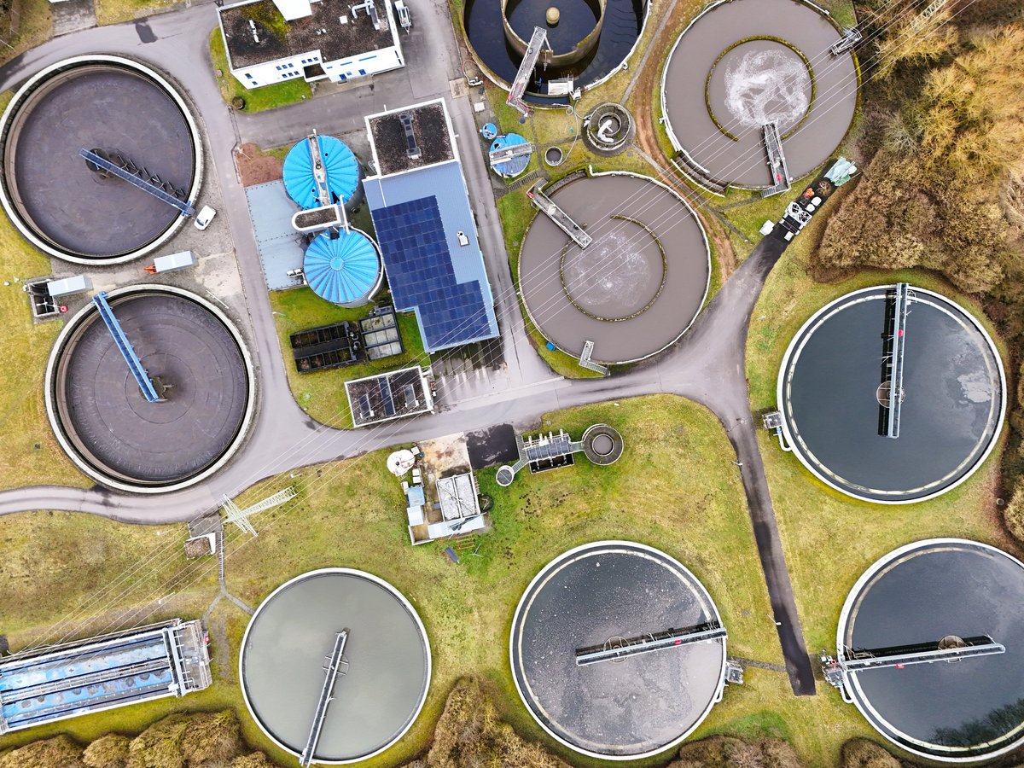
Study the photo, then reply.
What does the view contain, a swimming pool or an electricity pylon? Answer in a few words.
electricity pylon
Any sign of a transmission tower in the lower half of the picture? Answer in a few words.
Yes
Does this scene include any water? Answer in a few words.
Yes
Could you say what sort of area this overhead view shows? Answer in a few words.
industrial area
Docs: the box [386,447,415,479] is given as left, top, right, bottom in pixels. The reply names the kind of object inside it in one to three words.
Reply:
storage tank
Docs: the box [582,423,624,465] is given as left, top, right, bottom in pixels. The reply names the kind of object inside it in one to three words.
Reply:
storage tank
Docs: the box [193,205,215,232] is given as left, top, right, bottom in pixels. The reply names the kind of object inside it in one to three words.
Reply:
vehicle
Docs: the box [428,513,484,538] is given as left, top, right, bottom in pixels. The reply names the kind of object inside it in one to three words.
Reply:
shed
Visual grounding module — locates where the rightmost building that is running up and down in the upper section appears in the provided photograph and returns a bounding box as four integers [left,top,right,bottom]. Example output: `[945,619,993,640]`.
[362,98,500,354]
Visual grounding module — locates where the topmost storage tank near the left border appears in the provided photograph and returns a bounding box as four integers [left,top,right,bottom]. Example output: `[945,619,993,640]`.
[0,56,205,264]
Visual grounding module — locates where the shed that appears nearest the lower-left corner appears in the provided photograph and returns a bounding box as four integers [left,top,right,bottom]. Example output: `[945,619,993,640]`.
[185,530,220,559]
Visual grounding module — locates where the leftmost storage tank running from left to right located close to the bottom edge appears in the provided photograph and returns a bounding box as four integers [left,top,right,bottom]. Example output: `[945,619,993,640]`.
[0,618,221,738]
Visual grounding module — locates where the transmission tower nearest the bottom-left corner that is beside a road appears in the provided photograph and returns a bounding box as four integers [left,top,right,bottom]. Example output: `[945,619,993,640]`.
[221,481,303,538]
